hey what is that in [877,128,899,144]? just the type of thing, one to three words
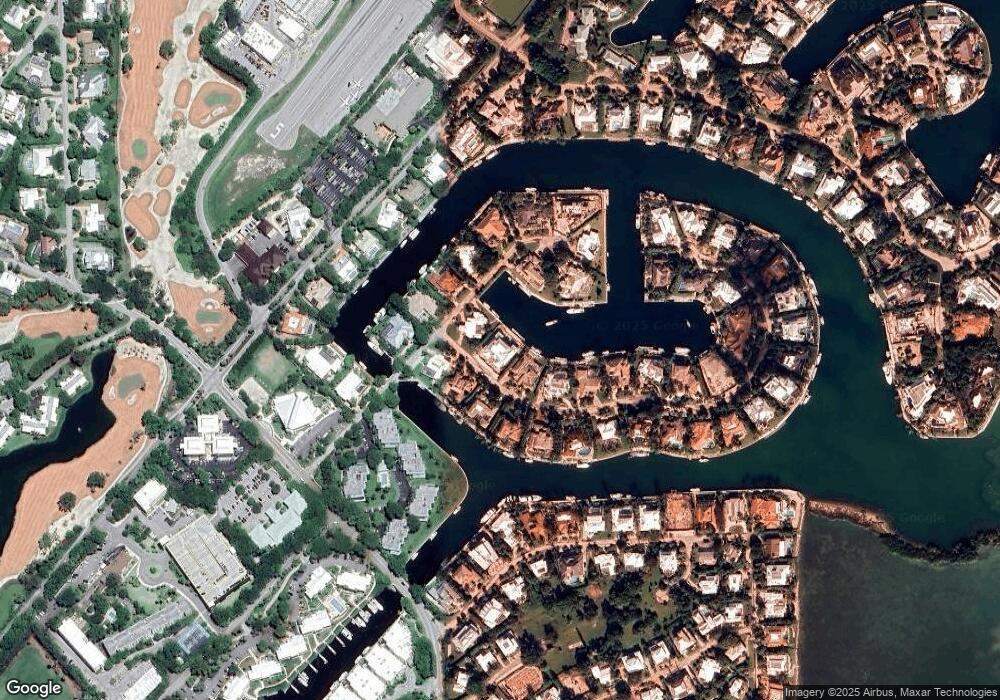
swimming pool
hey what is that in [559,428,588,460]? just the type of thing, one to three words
house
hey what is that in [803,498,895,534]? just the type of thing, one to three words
pier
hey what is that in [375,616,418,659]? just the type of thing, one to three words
building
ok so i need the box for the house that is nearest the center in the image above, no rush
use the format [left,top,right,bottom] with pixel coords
[479,336,519,372]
